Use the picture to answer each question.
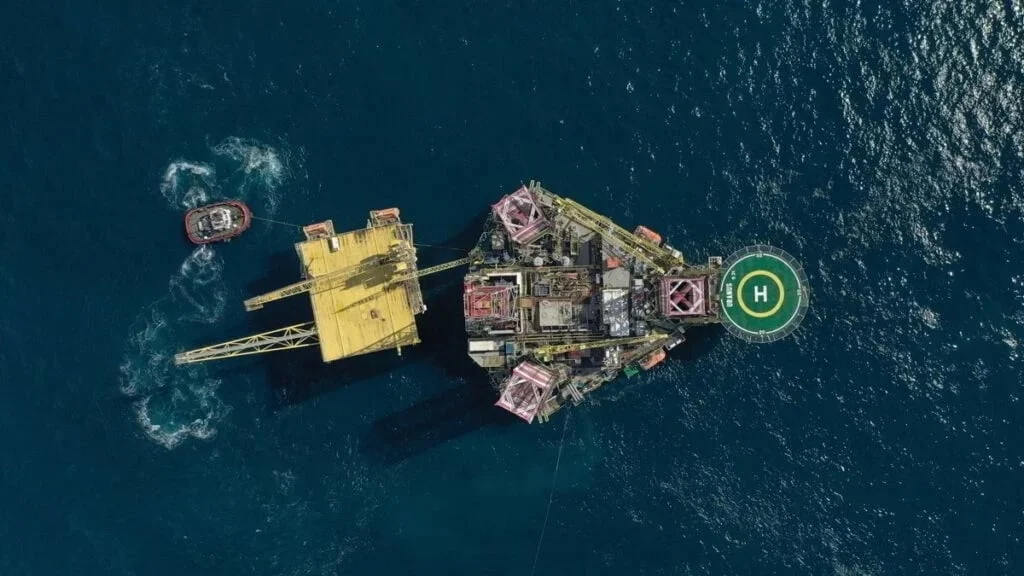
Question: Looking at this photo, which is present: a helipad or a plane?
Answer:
helipad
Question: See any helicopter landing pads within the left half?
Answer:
No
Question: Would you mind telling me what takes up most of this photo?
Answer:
water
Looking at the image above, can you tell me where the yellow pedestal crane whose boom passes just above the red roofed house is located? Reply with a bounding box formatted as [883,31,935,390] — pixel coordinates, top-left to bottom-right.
[529,332,670,363]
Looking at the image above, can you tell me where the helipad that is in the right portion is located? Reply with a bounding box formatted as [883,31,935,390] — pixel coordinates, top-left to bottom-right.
[711,246,811,342]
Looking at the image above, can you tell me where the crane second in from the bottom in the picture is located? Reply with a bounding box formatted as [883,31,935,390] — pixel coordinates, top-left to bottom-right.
[243,243,420,312]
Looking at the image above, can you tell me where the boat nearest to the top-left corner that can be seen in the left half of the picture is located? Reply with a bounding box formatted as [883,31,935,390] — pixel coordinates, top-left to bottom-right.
[185,200,254,244]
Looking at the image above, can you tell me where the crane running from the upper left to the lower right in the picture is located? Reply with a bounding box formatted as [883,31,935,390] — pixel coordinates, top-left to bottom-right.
[545,194,668,276]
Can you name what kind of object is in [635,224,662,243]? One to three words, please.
boat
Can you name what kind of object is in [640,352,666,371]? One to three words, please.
boat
